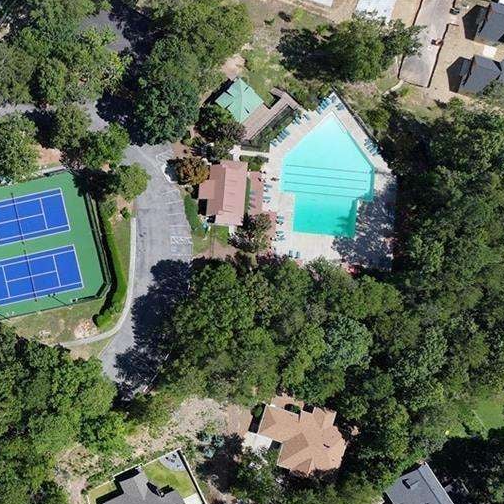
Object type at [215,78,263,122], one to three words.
building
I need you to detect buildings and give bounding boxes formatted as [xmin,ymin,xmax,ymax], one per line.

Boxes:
[215,78,263,122]
[197,160,248,227]
[470,2,504,44]
[455,55,501,96]
[382,464,453,504]
[104,466,184,504]
[256,405,346,476]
